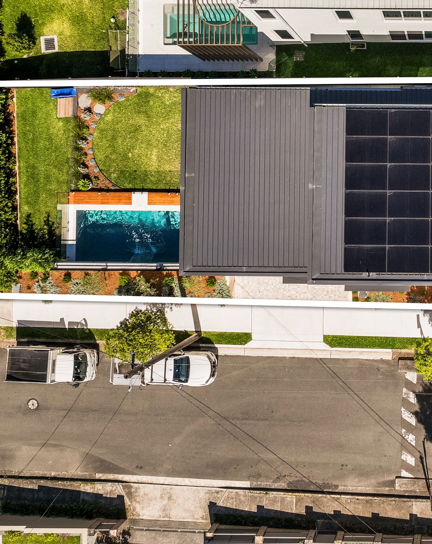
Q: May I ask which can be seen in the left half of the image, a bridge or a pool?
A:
pool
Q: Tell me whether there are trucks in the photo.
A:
Yes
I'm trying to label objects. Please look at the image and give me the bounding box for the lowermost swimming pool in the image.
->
[77,211,180,263]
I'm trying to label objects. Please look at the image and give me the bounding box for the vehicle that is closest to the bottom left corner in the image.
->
[9,339,101,386]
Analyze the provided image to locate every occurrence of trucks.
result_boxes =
[111,346,220,391]
[9,339,101,386]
